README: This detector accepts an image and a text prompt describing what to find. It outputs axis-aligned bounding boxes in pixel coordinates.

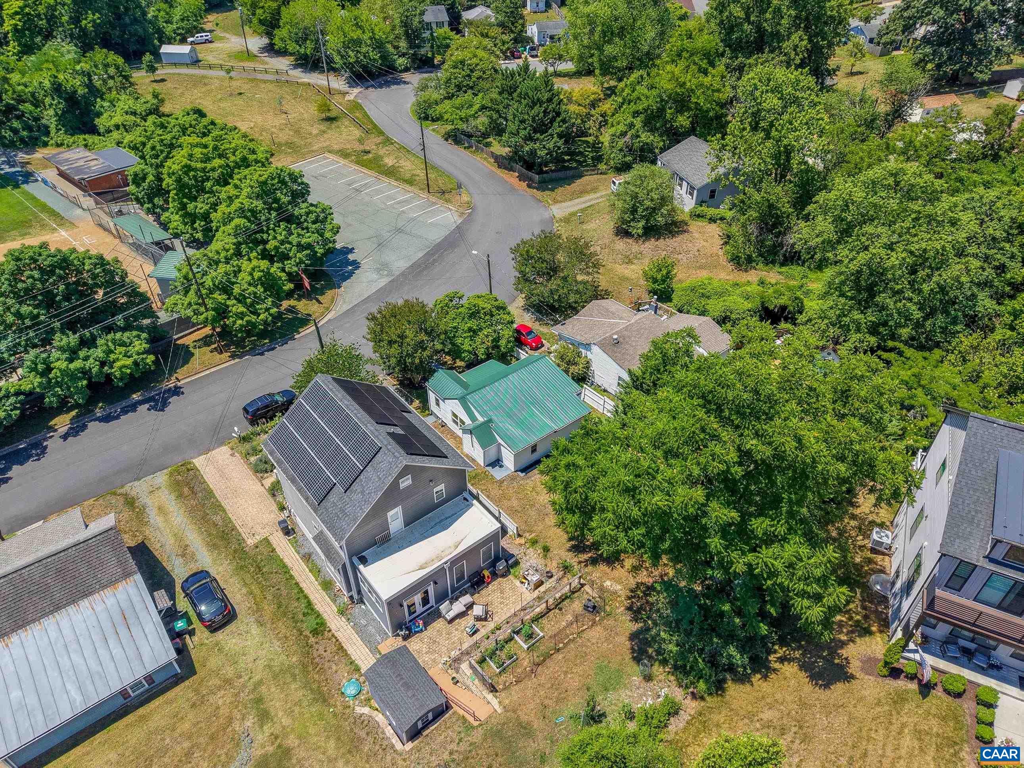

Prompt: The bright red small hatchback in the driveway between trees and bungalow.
[510,321,548,353]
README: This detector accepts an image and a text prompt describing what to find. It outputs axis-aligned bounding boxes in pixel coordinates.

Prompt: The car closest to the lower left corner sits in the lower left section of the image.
[176,563,235,640]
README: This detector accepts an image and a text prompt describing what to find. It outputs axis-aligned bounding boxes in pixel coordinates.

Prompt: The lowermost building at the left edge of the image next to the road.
[0,511,180,768]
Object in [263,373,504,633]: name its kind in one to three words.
house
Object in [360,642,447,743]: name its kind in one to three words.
shed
